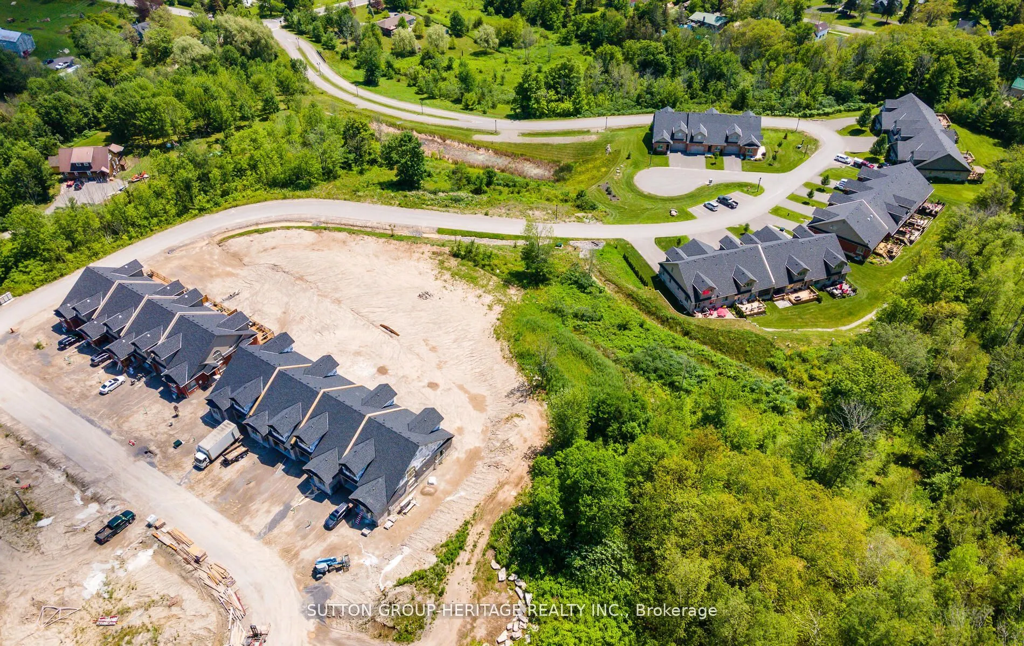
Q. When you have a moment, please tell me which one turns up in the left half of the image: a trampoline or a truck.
truck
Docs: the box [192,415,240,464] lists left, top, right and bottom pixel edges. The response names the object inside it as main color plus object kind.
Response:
white truck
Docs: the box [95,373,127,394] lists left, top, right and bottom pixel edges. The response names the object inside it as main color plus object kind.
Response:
white car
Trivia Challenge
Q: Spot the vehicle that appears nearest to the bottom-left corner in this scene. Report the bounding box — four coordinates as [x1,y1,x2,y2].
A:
[91,508,138,545]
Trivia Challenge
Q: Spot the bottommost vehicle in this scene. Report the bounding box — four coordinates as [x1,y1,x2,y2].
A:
[241,620,271,646]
